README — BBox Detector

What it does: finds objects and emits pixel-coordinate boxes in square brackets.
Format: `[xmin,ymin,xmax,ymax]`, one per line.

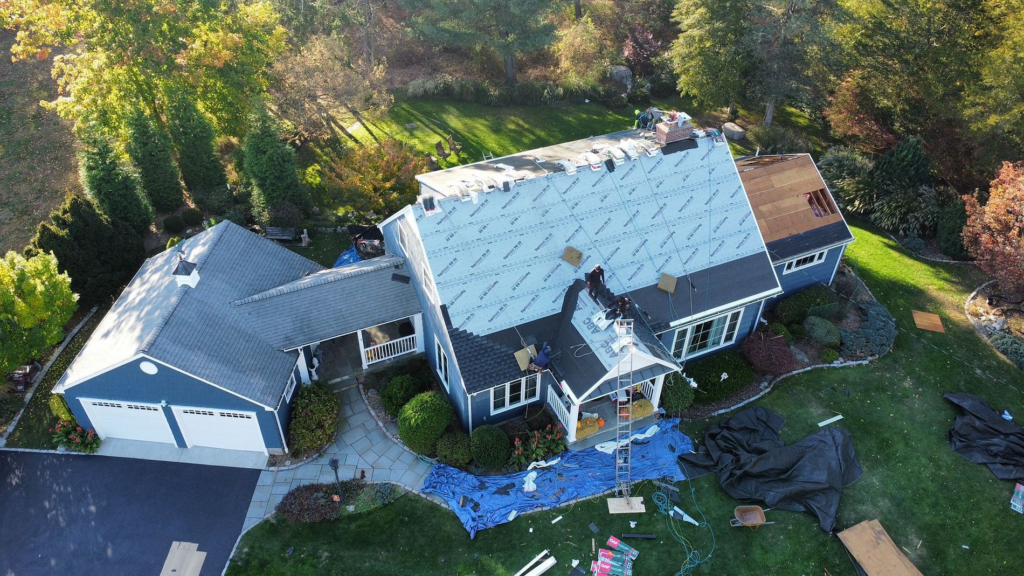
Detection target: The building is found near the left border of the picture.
[49,220,331,460]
